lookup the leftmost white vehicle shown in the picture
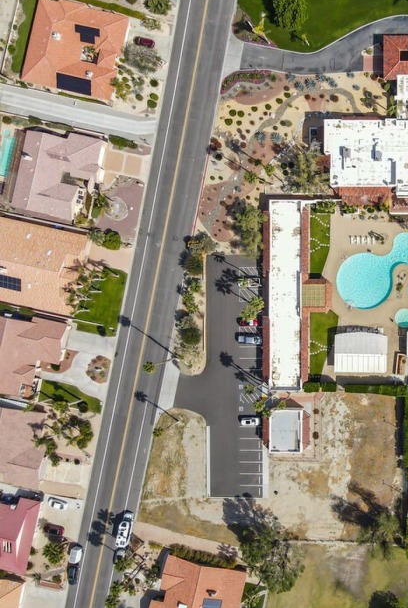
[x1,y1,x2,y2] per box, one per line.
[44,497,66,510]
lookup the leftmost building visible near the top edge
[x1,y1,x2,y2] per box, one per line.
[21,0,132,108]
